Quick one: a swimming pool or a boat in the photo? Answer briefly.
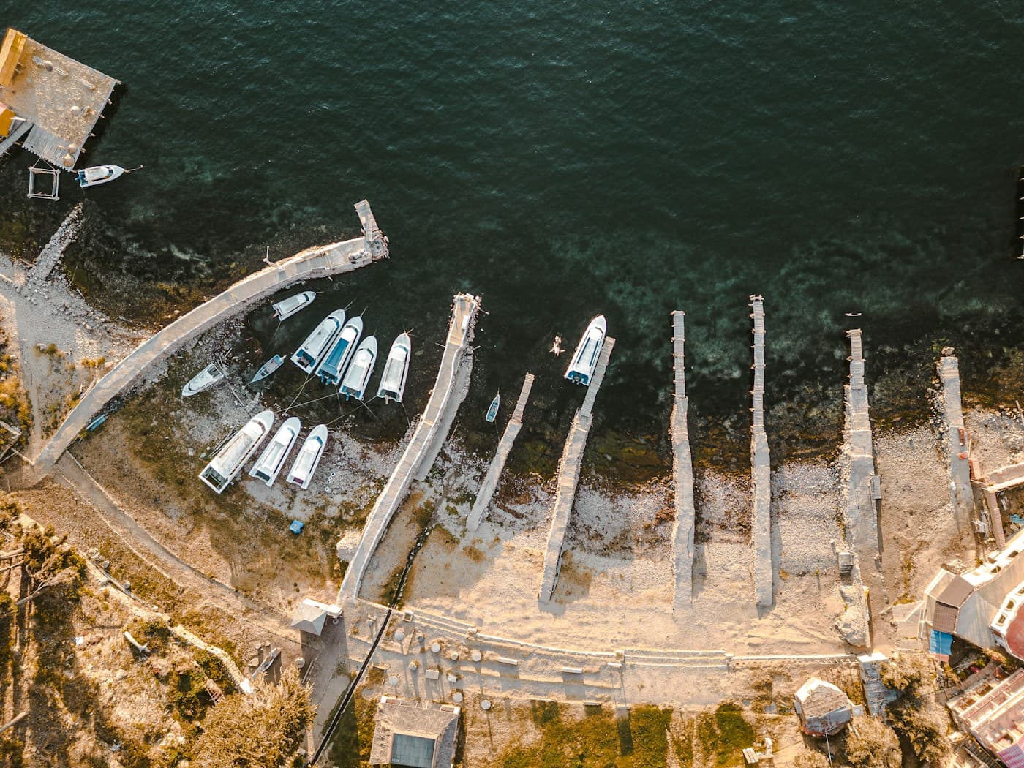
boat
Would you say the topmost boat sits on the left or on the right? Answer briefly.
left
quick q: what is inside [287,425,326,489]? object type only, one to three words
boat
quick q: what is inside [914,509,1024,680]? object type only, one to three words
building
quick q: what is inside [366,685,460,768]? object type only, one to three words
building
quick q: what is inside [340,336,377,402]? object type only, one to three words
boat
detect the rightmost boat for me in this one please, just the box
[565,315,606,388]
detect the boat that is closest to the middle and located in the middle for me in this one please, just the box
[486,394,500,423]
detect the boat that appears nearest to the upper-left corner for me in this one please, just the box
[76,166,128,187]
